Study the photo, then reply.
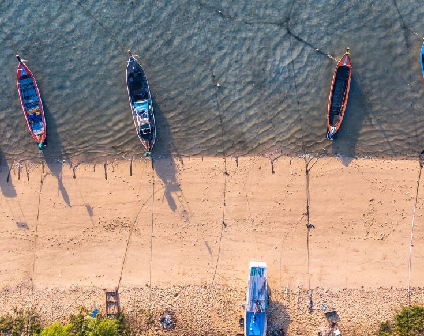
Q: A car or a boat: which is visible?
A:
boat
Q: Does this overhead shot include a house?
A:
No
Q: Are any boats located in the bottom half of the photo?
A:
Yes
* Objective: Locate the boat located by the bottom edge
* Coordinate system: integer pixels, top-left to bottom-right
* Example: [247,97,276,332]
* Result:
[243,261,267,336]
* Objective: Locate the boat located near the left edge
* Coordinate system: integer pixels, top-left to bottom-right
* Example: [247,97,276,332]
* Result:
[14,56,48,160]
